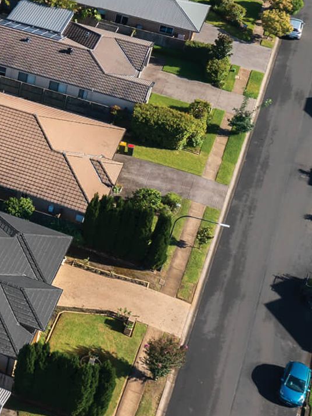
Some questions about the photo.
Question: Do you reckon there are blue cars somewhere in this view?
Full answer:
Yes, a blue car can be made out from above.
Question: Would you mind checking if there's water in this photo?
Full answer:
No, water can't be seen anywhere here.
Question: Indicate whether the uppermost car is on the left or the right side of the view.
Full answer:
The uppermost car sits on the right side.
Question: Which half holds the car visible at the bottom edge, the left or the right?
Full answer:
The car visible at the bottom edge appears in the right half of the scene.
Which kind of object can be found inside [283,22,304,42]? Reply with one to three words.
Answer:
car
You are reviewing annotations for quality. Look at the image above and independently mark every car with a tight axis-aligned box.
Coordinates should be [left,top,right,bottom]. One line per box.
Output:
[283,22,304,42]
[273,364,312,414]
